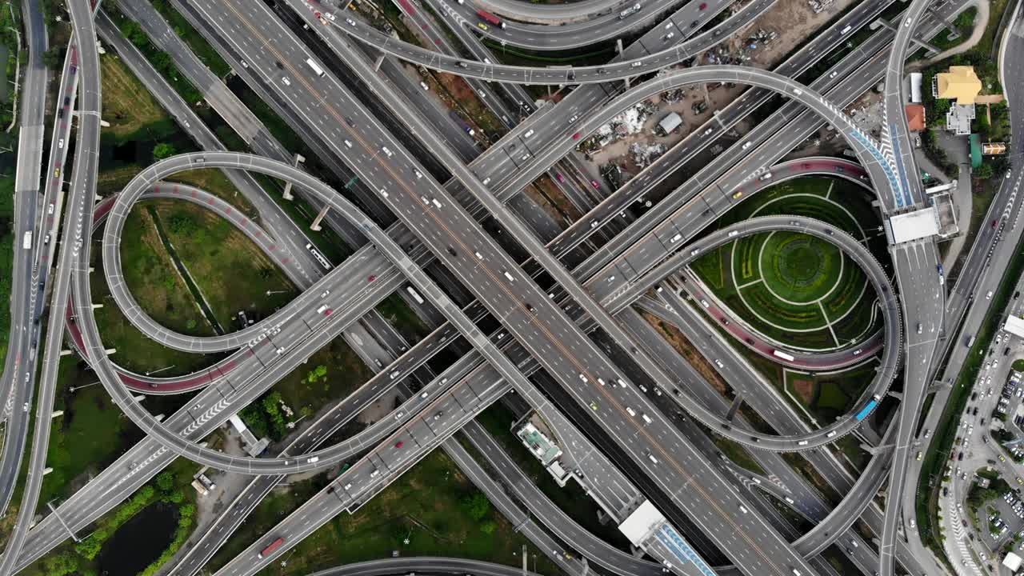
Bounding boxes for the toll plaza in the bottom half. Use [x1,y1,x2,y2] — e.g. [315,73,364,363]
[612,491,670,548]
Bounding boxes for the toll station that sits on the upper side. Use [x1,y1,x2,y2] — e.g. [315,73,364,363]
[885,200,940,253]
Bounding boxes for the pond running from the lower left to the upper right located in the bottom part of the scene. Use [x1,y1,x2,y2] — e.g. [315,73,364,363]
[98,503,180,576]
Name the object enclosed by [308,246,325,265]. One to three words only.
vehicle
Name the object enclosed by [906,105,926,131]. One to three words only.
house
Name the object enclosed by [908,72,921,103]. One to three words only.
shed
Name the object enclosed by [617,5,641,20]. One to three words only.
vehicle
